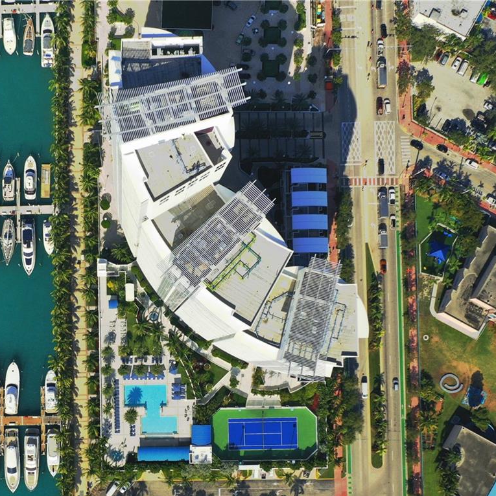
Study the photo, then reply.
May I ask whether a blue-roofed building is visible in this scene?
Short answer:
Yes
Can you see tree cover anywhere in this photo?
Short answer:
Yes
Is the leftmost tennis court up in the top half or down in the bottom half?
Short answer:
bottom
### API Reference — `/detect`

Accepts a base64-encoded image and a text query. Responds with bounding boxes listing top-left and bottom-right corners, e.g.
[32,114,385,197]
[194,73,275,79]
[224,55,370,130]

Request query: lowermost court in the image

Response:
[215,407,317,461]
